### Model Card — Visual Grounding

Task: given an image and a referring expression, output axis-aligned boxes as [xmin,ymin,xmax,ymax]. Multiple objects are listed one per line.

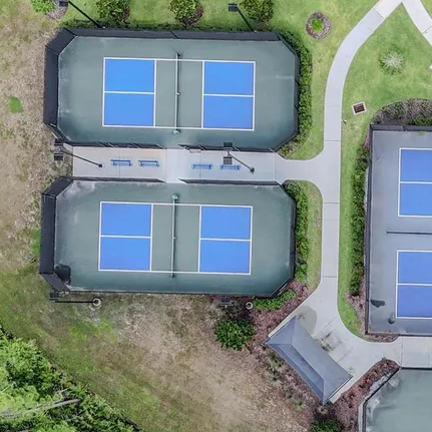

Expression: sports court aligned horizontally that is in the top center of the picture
[57,37,294,149]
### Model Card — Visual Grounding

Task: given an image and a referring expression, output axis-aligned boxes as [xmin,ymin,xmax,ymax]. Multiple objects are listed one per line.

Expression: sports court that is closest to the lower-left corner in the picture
[55,181,289,295]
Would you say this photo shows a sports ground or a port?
sports ground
